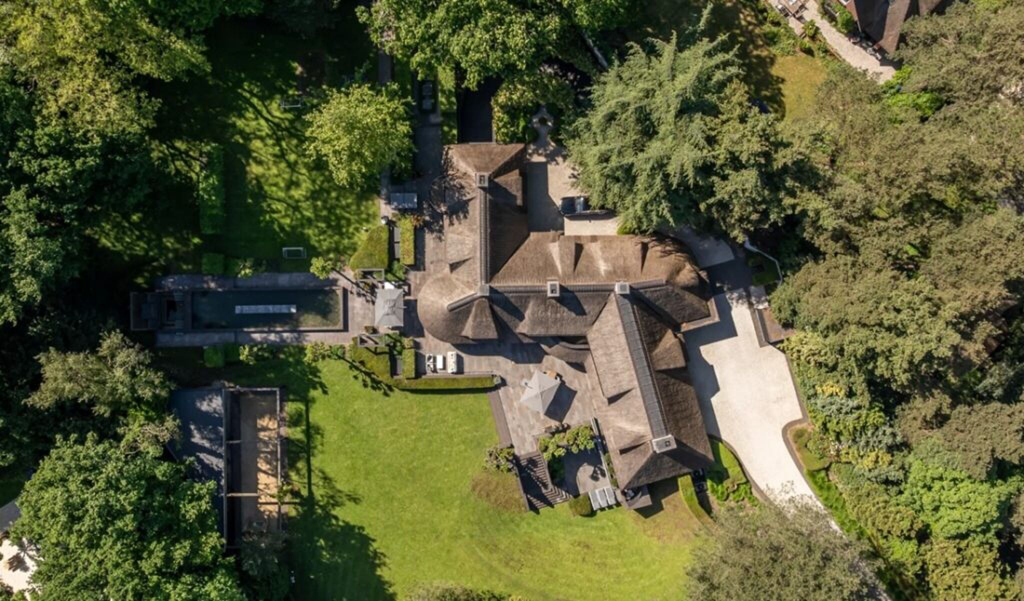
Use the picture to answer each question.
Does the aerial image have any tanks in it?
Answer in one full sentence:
No, this view has no tank in it.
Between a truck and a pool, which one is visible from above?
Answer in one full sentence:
There is a pool in the scene.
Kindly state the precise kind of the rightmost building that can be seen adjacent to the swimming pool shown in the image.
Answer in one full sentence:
The rightmost building that can be seen adjacent to the swimming pool appears to be a house.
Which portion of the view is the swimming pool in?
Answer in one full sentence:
You can find the swimming pool in the left area of the picture.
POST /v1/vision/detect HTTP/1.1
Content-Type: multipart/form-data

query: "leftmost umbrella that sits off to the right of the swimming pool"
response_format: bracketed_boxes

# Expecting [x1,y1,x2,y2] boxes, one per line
[375,289,404,326]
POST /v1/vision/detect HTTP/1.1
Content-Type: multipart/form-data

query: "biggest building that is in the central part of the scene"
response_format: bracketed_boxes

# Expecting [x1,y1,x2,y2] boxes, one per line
[417,145,720,488]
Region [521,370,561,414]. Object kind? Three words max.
umbrella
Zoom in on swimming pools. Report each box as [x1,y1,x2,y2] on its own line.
[186,286,348,332]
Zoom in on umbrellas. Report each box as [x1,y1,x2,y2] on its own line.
[521,370,561,414]
[375,289,404,326]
